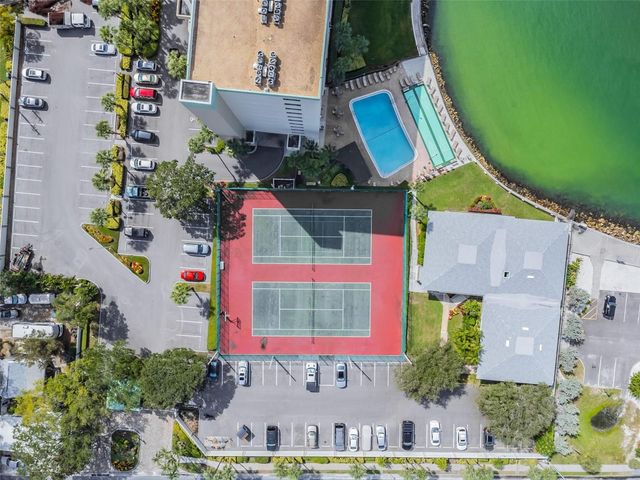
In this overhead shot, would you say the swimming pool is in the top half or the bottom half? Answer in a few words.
top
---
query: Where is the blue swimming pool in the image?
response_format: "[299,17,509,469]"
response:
[351,91,416,177]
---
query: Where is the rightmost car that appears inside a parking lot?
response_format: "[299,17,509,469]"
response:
[601,295,616,319]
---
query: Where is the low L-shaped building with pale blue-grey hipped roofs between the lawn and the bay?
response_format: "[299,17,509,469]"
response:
[419,211,572,386]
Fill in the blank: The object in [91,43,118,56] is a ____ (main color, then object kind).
white vehicle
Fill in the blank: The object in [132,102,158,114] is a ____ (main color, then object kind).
white vehicle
